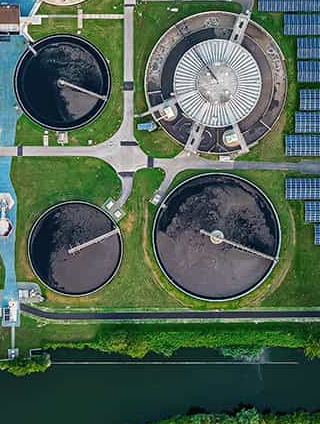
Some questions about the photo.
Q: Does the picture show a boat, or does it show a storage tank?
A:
storage tank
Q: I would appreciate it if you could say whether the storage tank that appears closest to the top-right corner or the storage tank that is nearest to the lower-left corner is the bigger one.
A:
the storage tank that appears closest to the top-right corner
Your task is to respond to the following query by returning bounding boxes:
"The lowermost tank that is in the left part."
[28,200,123,295]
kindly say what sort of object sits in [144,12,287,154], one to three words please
storage tank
